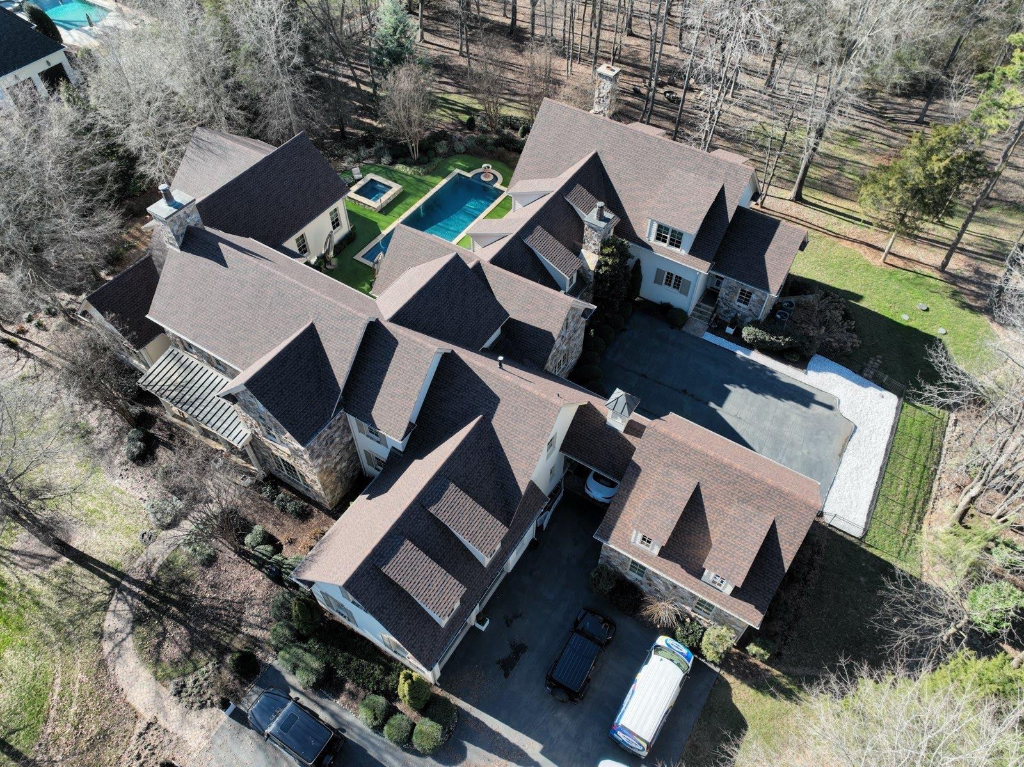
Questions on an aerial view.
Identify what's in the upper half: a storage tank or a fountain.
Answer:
fountain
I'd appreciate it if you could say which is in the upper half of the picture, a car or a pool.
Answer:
pool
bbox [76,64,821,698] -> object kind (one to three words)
house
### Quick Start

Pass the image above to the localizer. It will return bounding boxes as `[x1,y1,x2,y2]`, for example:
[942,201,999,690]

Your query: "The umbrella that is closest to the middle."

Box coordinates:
[361,250,375,286]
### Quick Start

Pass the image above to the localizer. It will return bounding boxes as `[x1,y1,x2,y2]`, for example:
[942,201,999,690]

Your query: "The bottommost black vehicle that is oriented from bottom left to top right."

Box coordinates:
[543,610,621,710]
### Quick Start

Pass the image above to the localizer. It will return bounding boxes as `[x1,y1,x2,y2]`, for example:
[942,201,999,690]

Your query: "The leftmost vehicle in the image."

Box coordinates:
[246,685,345,767]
